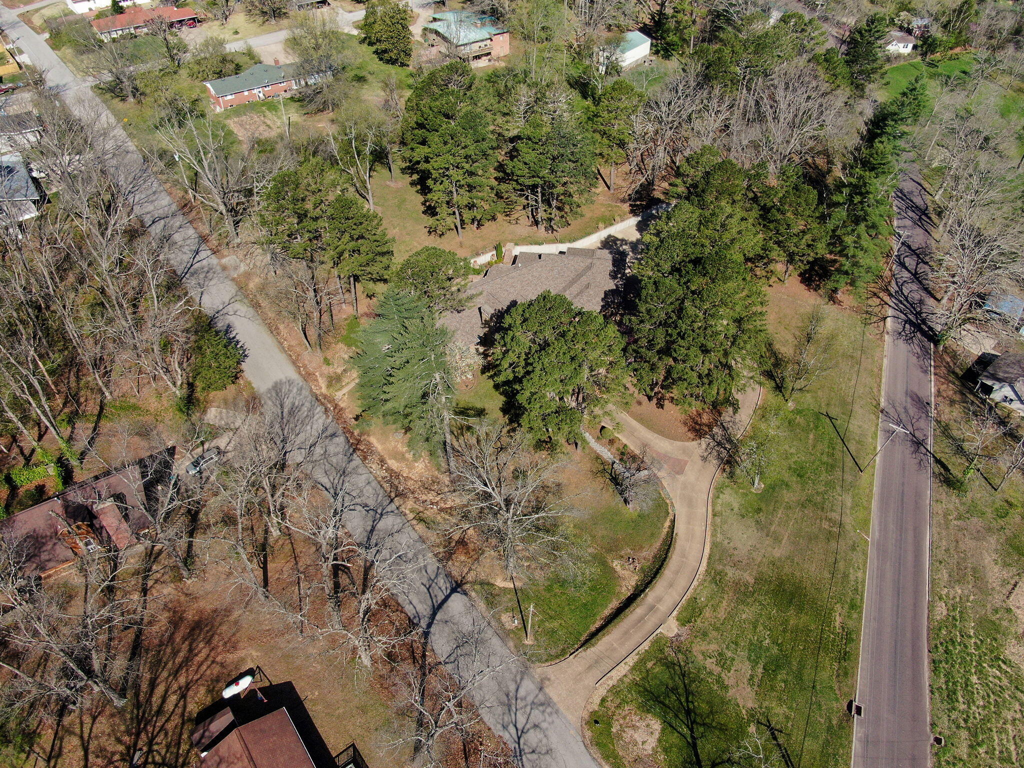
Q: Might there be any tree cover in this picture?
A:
Yes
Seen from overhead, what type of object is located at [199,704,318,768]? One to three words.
house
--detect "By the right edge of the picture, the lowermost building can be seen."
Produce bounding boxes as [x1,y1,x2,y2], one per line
[968,353,1024,422]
